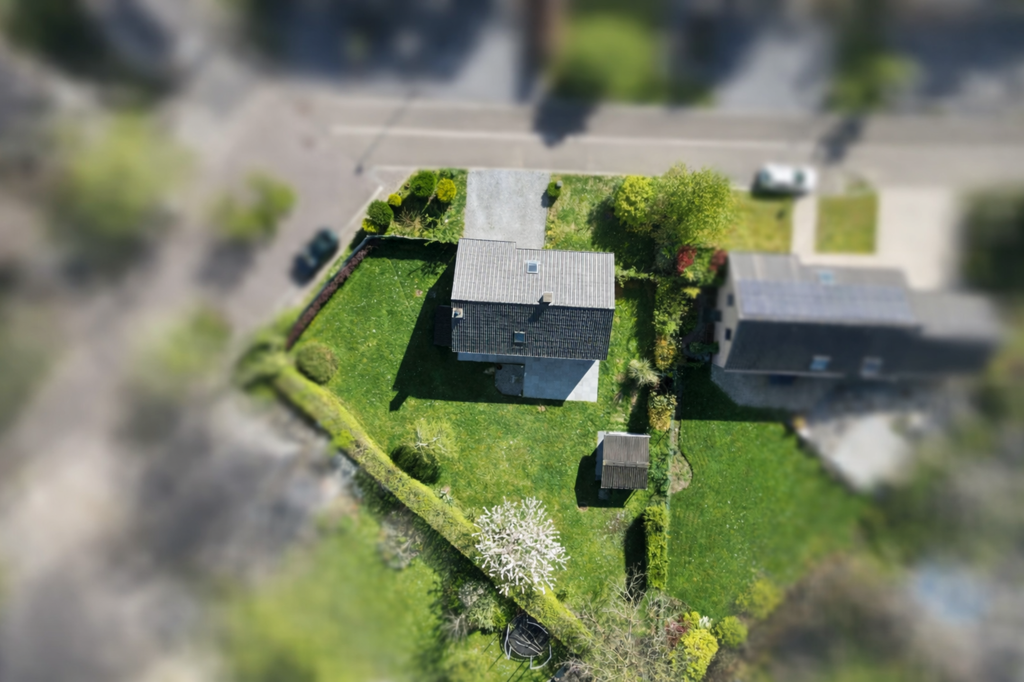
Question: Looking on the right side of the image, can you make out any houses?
Yes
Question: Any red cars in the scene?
No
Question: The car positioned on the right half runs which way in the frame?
from side to side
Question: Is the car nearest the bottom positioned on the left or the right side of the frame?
left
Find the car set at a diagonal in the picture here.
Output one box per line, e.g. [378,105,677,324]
[290,227,343,283]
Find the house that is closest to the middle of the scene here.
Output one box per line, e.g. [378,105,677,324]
[441,237,615,361]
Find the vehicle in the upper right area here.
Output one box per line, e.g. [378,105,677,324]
[758,163,818,193]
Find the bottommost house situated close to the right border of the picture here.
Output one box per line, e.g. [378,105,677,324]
[710,252,993,387]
